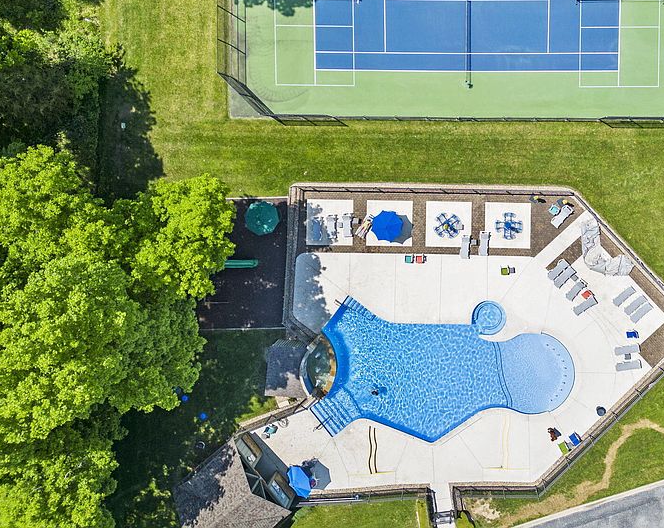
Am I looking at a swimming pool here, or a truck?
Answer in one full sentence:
This aerial view contains a swimming pool.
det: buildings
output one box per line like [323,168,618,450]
[172,429,299,528]
[265,340,310,401]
